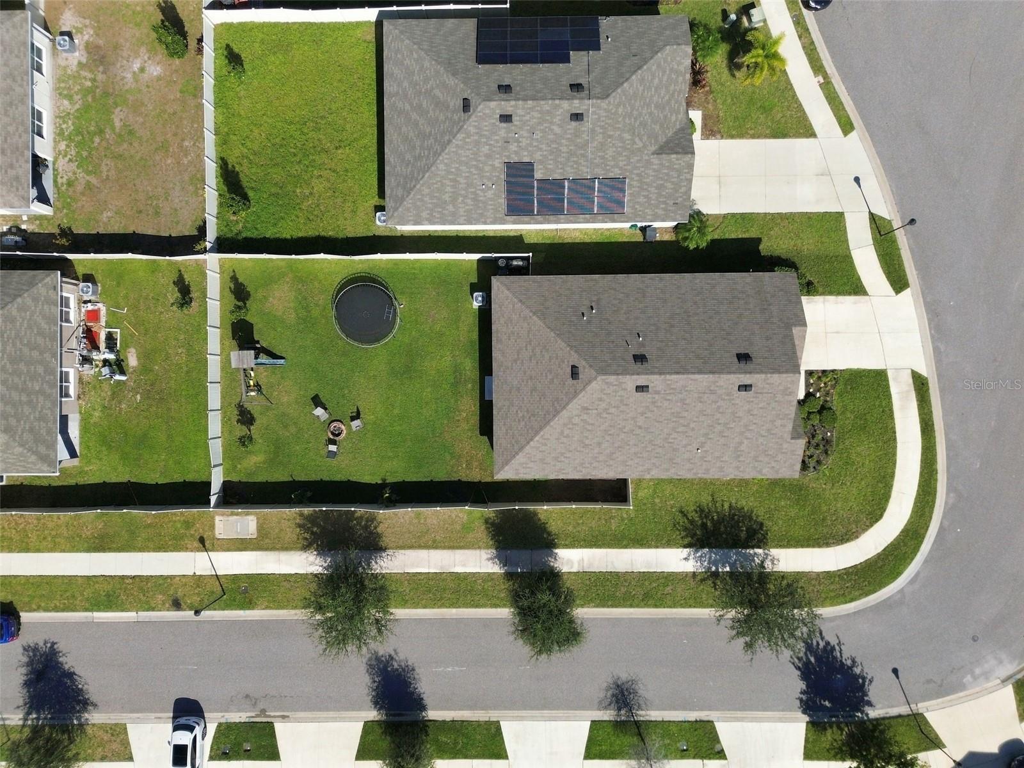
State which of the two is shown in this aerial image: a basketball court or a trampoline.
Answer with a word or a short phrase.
trampoline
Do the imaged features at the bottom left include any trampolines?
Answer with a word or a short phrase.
No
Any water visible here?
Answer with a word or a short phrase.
No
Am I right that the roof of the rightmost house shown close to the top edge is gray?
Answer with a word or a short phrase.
Yes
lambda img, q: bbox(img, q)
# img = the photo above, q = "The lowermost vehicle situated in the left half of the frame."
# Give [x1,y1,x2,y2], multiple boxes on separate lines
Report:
[171,719,206,768]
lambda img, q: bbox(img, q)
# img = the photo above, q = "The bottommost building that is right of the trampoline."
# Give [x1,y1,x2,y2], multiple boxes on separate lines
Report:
[485,274,807,480]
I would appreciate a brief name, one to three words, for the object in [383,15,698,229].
house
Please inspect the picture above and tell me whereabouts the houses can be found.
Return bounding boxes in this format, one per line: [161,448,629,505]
[0,269,79,474]
[485,274,807,480]
[0,9,54,214]
[383,15,698,229]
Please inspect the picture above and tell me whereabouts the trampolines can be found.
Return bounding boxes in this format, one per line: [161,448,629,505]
[334,282,399,347]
